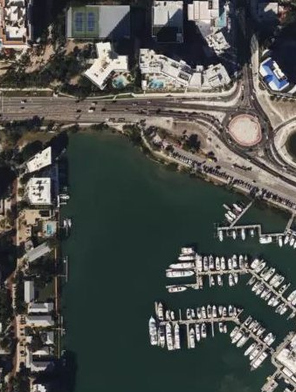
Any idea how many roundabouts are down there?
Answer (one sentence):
I count just 1 roundabout.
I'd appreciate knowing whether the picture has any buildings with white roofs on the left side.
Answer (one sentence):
Yes, you'll find a building with a white roof on the left side.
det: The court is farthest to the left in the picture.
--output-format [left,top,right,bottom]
[71,7,86,38]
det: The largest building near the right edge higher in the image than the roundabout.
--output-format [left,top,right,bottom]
[259,57,290,94]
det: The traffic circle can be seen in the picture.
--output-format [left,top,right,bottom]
[220,106,269,154]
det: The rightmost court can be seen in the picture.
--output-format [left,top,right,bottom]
[86,7,99,38]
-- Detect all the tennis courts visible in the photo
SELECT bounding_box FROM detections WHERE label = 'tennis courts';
[86,7,99,38]
[71,7,86,38]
